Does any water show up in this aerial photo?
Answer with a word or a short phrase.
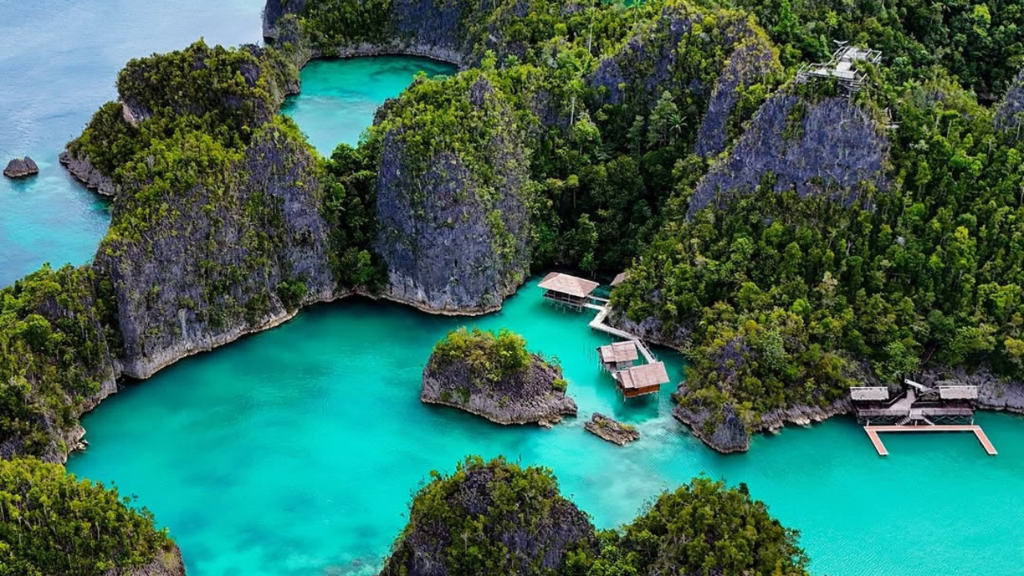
Yes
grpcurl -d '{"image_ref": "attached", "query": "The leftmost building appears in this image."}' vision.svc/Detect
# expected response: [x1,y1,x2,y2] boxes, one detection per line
[538,271,595,309]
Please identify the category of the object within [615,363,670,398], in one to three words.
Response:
shed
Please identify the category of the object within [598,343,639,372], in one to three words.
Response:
shed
